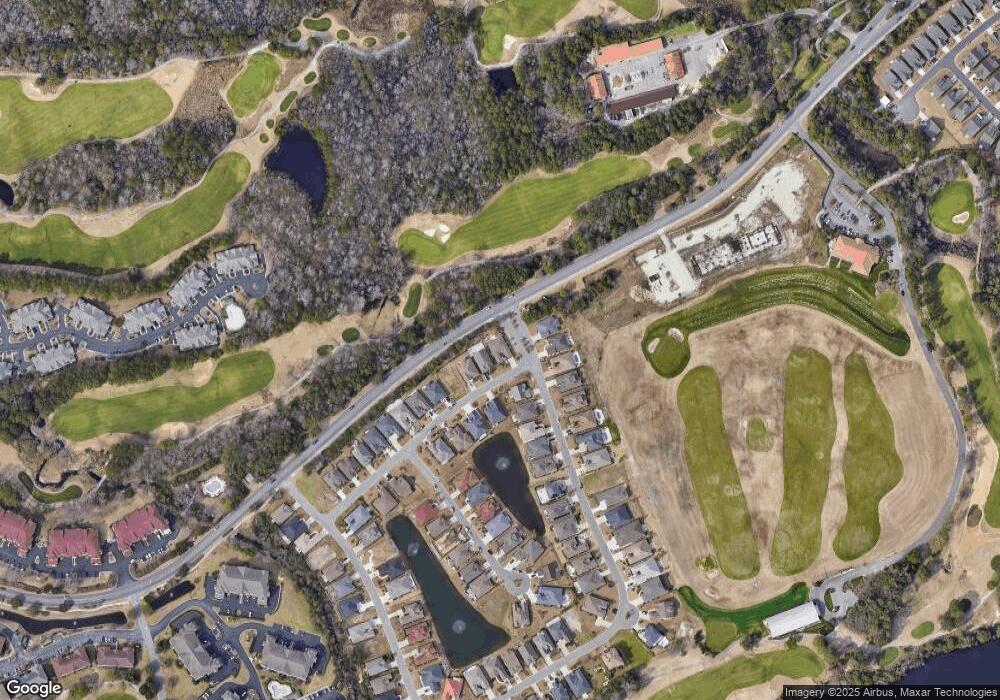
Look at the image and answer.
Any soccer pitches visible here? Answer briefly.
No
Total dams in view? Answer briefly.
0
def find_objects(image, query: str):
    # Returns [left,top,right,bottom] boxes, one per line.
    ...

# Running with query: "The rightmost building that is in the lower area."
[765,601,819,638]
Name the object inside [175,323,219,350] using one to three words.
building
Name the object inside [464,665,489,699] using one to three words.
house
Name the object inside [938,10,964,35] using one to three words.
house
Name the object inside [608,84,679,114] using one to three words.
shed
